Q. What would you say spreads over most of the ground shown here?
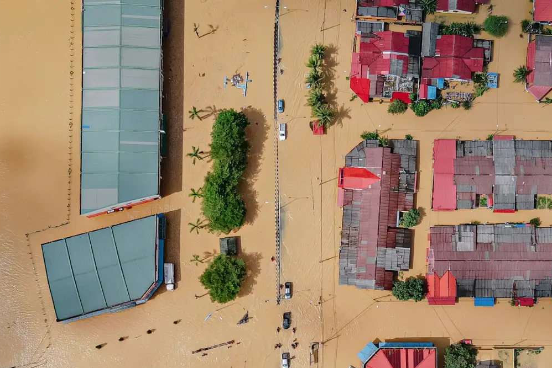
water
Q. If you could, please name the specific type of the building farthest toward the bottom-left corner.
warehouse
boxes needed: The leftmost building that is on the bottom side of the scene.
[41,213,166,325]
